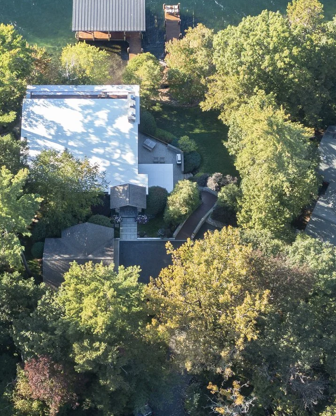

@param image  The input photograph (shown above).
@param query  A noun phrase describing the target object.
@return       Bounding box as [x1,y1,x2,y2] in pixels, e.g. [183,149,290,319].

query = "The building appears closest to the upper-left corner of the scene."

[72,0,146,45]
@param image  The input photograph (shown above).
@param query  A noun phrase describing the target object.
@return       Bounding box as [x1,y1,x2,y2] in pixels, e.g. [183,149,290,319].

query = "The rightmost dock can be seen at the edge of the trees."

[163,2,181,57]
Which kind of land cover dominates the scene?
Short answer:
trees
